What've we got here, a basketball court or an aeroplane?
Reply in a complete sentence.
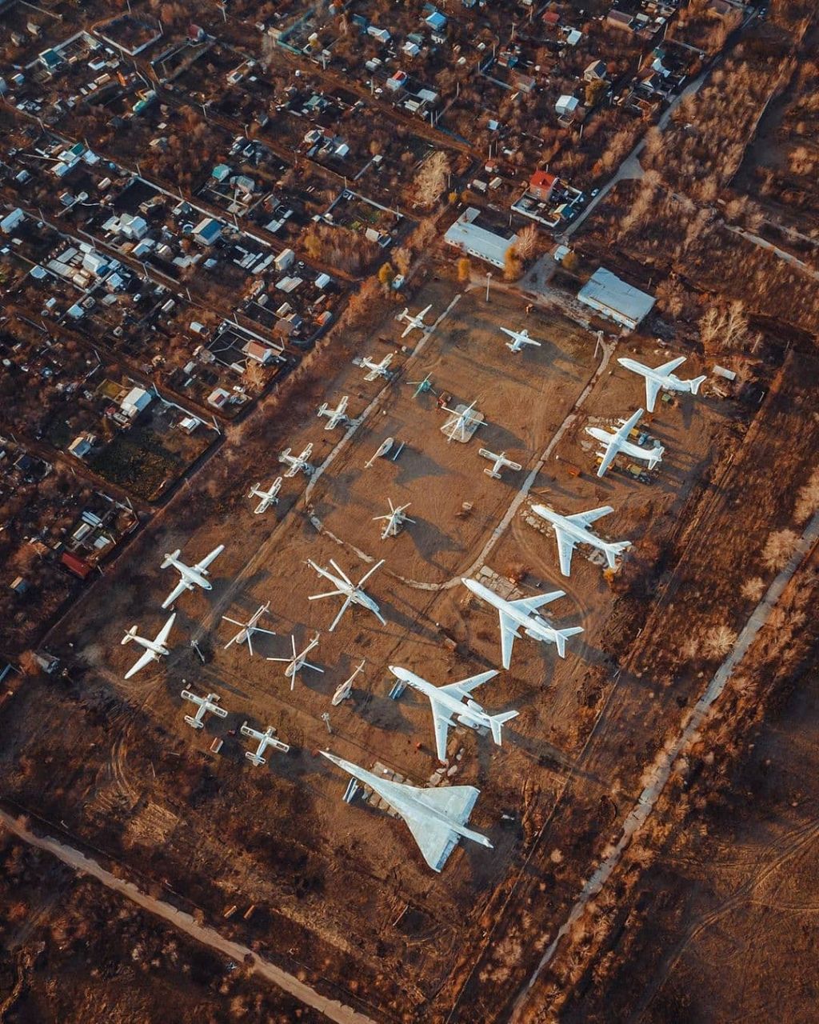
The one in the frame is an aeroplane.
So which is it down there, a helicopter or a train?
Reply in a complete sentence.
Visible in the photo is a helicopter.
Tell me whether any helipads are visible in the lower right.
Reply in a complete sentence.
No, no helipad appears in the lower right.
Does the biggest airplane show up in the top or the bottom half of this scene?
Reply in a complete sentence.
You can find the biggest airplane in the bottom half.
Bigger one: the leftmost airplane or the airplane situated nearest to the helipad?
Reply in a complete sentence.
The leftmost airplane covers a greater area than the airplane situated nearest to the helipad.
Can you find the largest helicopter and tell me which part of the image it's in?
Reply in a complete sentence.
The largest helicopter is located in the center region of the scene.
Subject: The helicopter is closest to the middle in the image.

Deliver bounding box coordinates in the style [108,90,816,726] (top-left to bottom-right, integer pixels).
[373,497,415,538]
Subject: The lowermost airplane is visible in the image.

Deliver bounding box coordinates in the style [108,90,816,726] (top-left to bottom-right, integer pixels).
[318,749,494,871]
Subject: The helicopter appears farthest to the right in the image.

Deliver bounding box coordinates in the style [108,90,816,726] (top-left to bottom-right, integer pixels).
[442,400,488,440]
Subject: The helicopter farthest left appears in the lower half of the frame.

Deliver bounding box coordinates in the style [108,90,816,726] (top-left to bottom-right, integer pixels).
[223,602,275,654]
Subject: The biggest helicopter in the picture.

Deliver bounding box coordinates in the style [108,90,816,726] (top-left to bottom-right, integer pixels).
[306,555,386,629]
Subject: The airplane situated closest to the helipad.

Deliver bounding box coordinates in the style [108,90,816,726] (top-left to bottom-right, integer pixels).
[479,449,522,479]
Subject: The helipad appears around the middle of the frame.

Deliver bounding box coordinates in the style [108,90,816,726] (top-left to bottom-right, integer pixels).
[441,404,484,443]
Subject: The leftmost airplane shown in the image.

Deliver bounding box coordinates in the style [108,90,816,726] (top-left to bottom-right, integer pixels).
[120,609,170,673]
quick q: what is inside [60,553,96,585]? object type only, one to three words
barn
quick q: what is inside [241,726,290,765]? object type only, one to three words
airplane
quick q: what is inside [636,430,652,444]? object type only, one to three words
vehicle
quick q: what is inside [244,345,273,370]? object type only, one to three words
house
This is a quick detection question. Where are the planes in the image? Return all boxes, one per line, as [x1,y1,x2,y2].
[181,694,230,730]
[277,444,310,478]
[317,395,348,428]
[158,543,219,604]
[247,478,282,513]
[388,666,516,761]
[586,408,669,477]
[276,442,309,476]
[396,305,425,337]
[318,749,494,871]
[497,330,543,352]
[120,609,170,673]
[358,352,391,380]
[479,449,522,479]
[241,726,290,765]
[532,506,632,575]
[461,578,580,667]
[618,359,704,411]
